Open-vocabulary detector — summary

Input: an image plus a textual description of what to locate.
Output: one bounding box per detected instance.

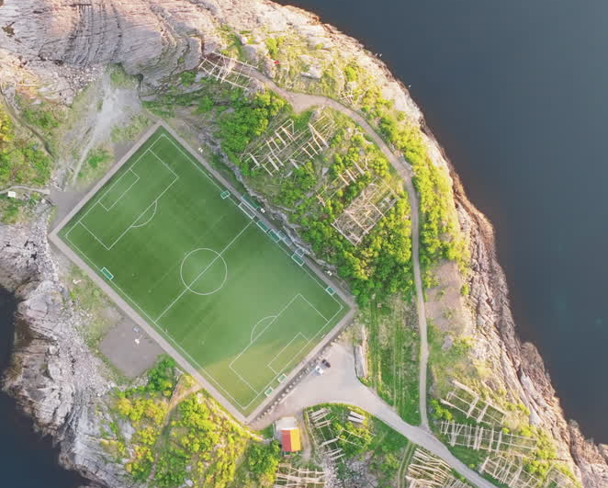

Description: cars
[322,358,332,369]
[314,365,324,374]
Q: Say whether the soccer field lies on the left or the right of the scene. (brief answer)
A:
left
